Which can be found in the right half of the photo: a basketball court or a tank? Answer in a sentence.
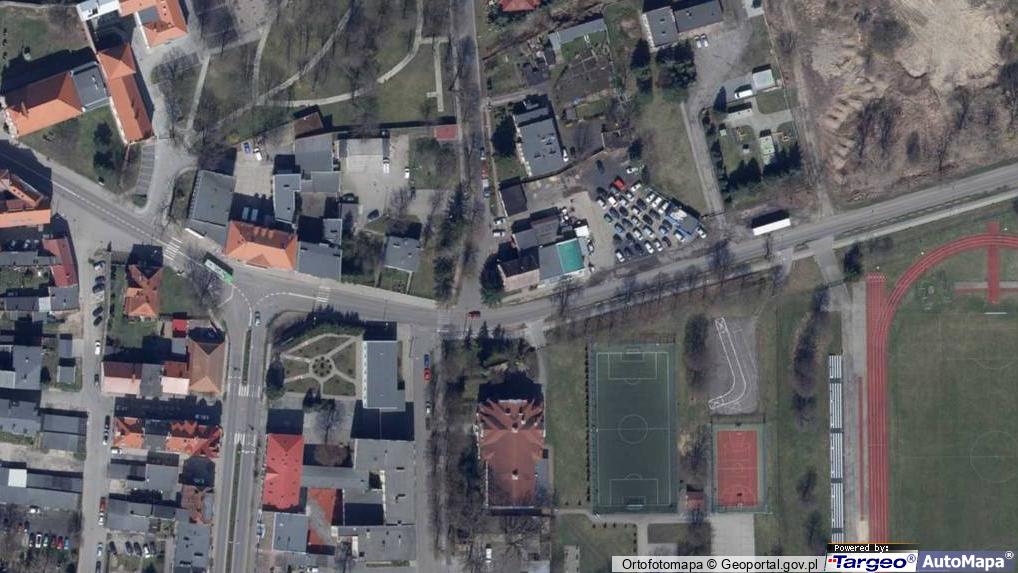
Looking in the right half of the photo, you will find a basketball court.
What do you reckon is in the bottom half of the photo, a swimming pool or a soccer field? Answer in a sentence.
The one visible in the bottom half of the photo is a soccer field.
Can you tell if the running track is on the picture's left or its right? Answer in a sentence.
You can find the running track on the right side of the picture.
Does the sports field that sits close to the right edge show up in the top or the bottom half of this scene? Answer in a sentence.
You can find the sports field that sits close to the right edge in the bottom half.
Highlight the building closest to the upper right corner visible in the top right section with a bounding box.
[751,70,775,90]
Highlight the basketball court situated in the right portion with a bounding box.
[713,424,766,513]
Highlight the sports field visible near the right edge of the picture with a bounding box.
[893,312,1018,573]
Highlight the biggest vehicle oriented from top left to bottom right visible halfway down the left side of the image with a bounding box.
[203,260,234,285]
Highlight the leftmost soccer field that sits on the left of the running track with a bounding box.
[590,344,678,514]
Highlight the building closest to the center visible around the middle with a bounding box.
[499,252,541,290]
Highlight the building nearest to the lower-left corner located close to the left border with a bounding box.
[0,466,83,510]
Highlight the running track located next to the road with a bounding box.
[858,222,1018,573]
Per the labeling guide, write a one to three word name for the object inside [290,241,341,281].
building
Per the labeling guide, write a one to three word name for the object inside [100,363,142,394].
house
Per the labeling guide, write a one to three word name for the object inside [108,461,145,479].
shed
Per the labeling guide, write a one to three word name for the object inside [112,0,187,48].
building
